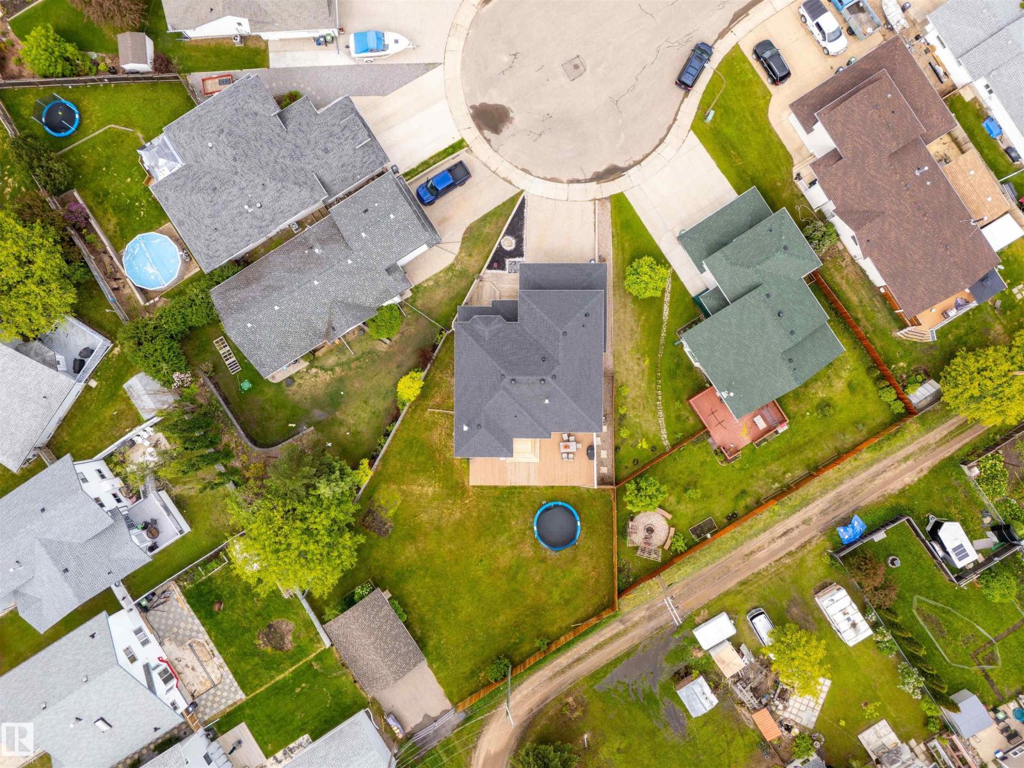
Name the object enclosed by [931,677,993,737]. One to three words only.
shed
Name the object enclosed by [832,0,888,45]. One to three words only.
truck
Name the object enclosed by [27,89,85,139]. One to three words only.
trampoline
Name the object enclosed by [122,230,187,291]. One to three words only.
swimming pool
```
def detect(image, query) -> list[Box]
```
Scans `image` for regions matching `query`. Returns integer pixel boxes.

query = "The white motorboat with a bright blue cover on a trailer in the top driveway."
[344,31,422,64]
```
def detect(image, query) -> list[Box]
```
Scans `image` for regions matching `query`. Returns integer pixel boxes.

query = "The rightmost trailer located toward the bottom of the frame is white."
[924,515,979,569]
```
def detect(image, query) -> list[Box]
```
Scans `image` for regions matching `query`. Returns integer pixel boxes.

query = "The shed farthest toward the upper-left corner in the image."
[117,29,158,71]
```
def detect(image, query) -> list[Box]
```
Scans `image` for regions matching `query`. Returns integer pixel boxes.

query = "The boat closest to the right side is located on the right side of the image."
[879,0,910,36]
